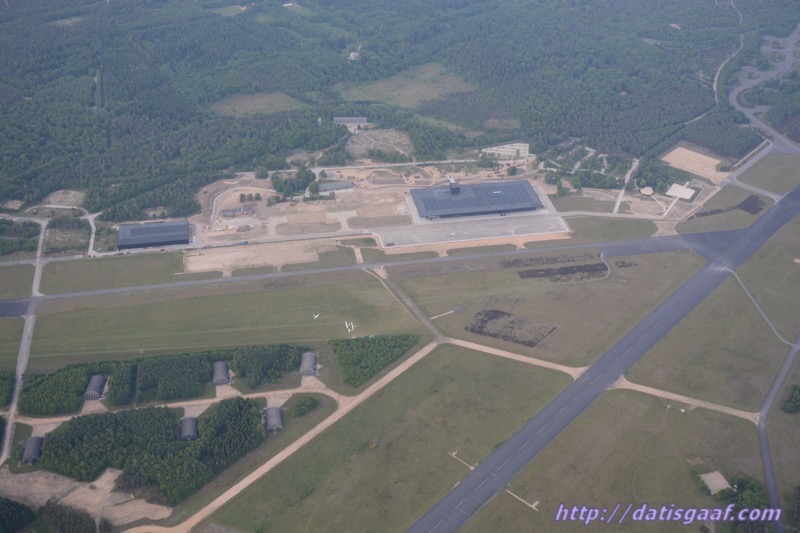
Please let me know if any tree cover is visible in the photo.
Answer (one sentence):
Yes, there's tree cover in this view.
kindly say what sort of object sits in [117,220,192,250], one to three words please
hangar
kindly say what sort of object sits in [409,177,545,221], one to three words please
building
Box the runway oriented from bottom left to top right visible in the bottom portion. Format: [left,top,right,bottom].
[402,184,800,533]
